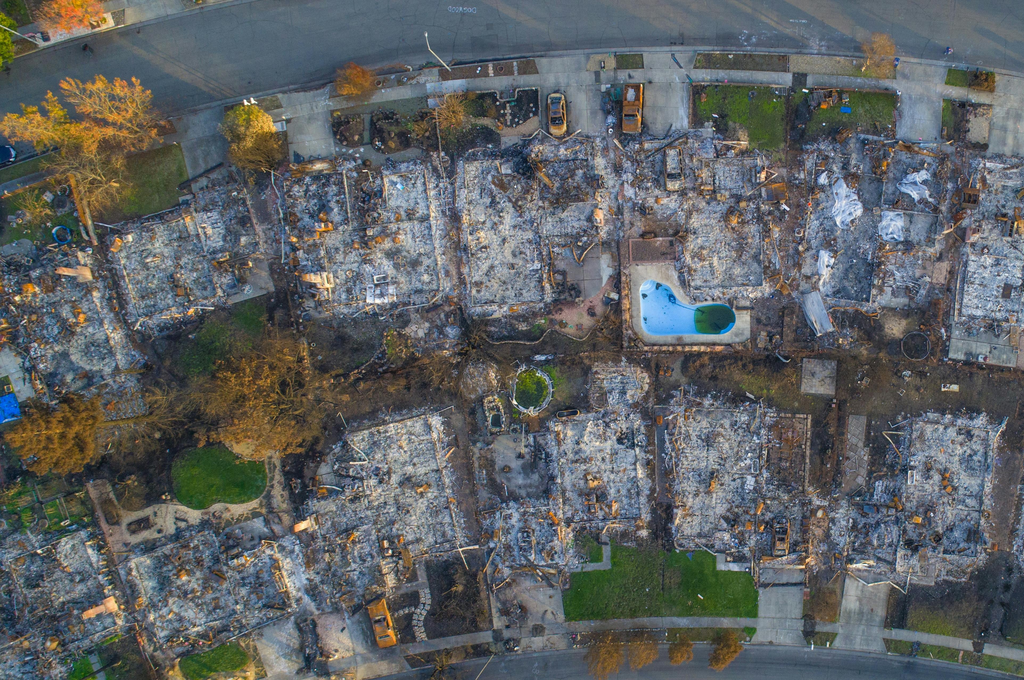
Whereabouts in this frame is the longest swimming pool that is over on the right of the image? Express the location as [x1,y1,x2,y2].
[638,278,737,337]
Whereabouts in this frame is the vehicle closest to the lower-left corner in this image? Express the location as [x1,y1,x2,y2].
[365,599,394,652]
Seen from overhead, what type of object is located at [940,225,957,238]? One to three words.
chimney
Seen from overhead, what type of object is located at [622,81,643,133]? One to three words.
truck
